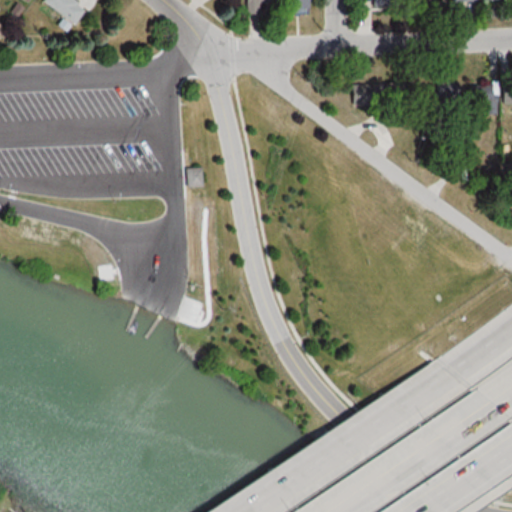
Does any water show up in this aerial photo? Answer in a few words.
Yes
